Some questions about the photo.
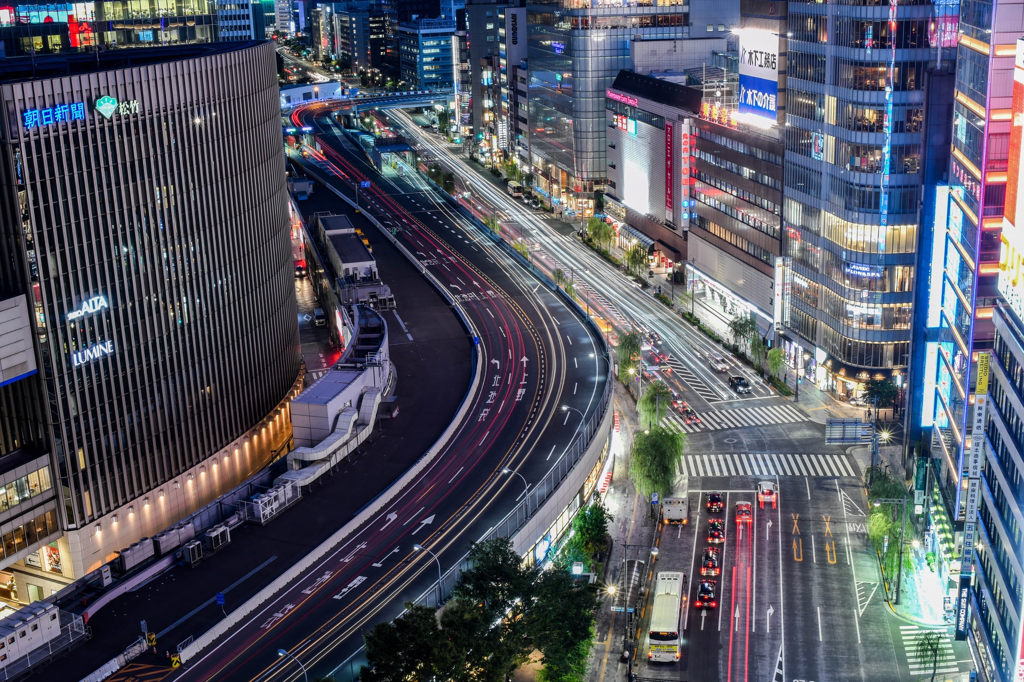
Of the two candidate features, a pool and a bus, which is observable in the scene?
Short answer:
bus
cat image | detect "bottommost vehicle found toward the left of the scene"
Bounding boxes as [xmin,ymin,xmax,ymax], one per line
[313,307,326,325]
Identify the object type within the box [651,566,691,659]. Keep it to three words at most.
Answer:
bus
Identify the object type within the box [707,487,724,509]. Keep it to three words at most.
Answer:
car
